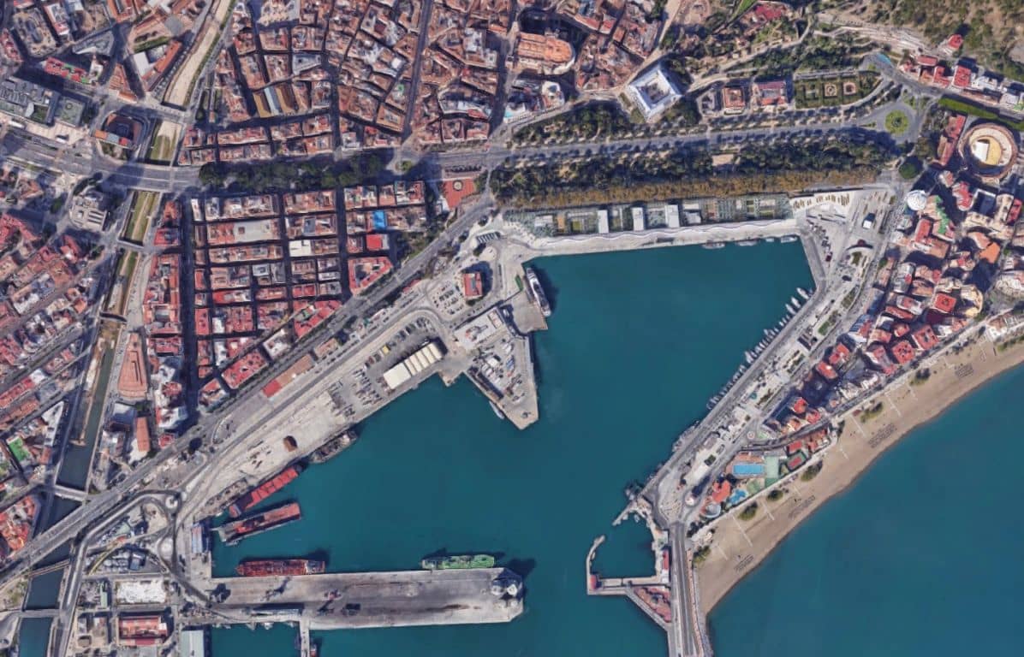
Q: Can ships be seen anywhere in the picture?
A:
Yes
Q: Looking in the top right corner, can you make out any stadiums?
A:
Yes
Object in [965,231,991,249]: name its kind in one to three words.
building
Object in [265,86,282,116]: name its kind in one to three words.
building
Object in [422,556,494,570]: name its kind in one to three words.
ship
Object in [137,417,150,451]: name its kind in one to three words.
house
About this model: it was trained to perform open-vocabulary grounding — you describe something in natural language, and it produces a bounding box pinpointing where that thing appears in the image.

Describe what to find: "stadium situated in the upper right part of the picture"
[959,118,1019,176]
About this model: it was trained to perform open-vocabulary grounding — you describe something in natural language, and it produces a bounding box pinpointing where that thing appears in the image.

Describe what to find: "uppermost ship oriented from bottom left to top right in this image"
[309,431,361,464]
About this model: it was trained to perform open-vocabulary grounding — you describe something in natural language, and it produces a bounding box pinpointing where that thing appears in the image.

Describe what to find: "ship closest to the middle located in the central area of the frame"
[528,268,549,318]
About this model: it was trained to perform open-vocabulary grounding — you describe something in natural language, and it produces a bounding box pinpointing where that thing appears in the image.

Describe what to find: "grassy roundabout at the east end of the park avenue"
[875,100,918,143]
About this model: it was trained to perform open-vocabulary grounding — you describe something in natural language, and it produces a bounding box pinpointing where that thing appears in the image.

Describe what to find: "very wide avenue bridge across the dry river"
[127,159,176,190]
